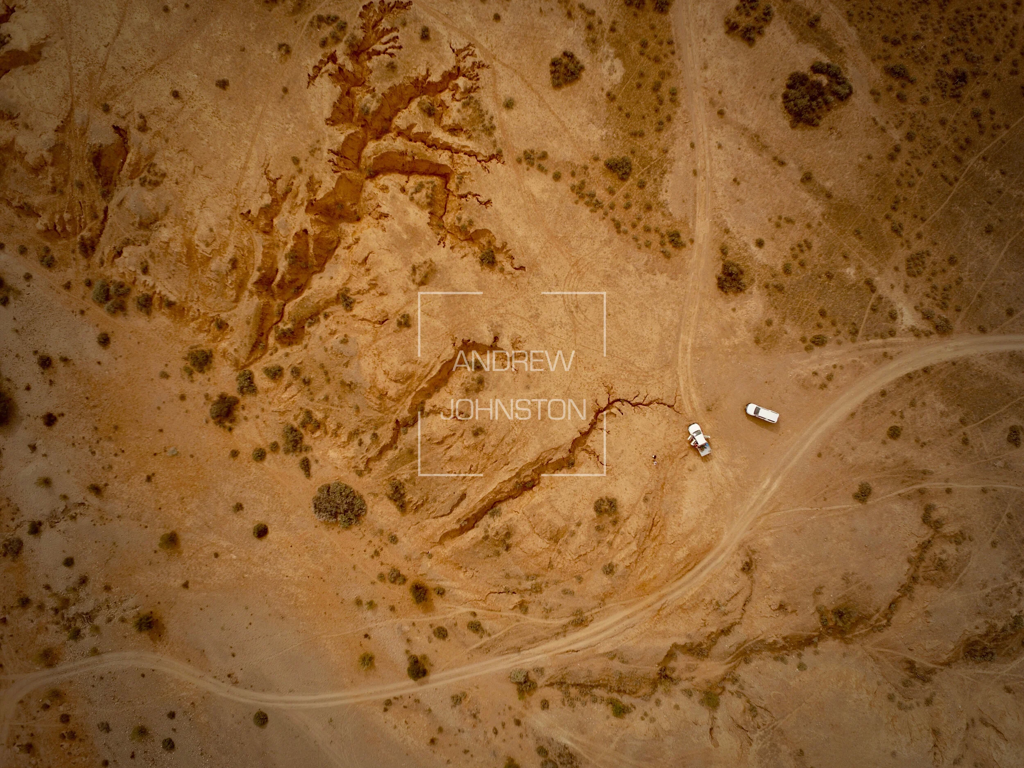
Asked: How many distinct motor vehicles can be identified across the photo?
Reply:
2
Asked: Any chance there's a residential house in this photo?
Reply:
No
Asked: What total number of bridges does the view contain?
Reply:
0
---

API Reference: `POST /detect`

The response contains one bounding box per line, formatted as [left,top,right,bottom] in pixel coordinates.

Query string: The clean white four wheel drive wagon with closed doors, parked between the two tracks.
[745,404,781,424]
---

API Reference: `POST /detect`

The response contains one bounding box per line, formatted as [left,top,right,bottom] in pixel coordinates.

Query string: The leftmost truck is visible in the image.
[687,424,714,458]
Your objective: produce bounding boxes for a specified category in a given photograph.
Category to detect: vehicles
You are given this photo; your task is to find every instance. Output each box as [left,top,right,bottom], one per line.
[745,404,781,424]
[687,424,714,458]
